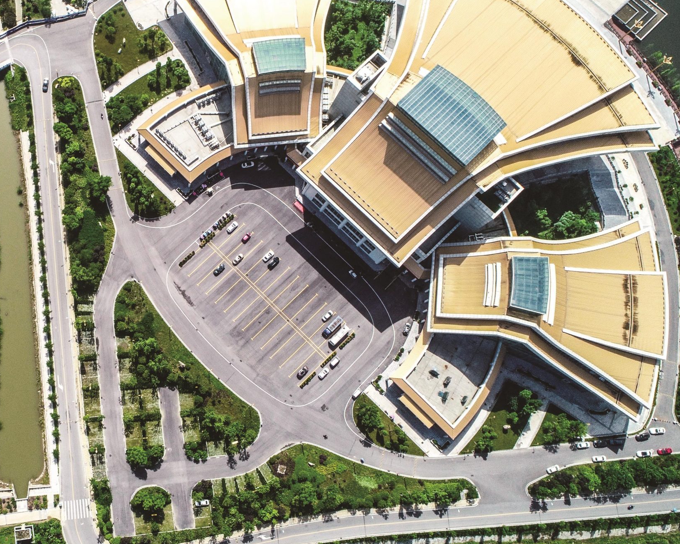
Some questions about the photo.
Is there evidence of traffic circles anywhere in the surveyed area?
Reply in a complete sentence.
No, no traffic circle is visible in the view.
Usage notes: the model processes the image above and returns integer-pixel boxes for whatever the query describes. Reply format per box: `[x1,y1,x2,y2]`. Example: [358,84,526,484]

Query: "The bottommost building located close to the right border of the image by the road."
[420,217,670,421]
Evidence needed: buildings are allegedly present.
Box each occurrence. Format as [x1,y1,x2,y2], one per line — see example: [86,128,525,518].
[283,0,661,285]
[172,0,333,159]
[420,217,670,421]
